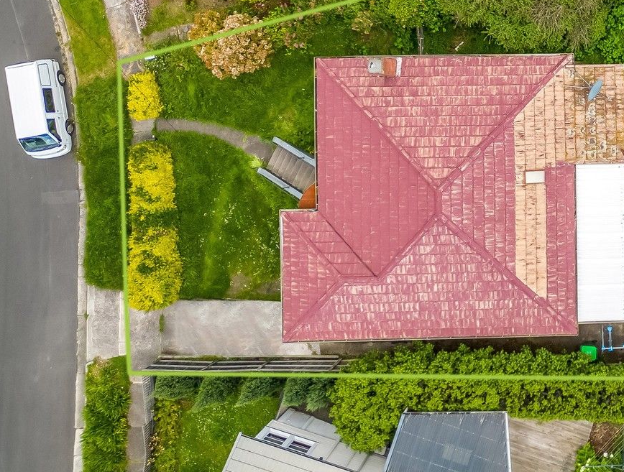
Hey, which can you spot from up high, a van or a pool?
van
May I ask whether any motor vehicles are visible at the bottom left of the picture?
No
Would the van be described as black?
No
